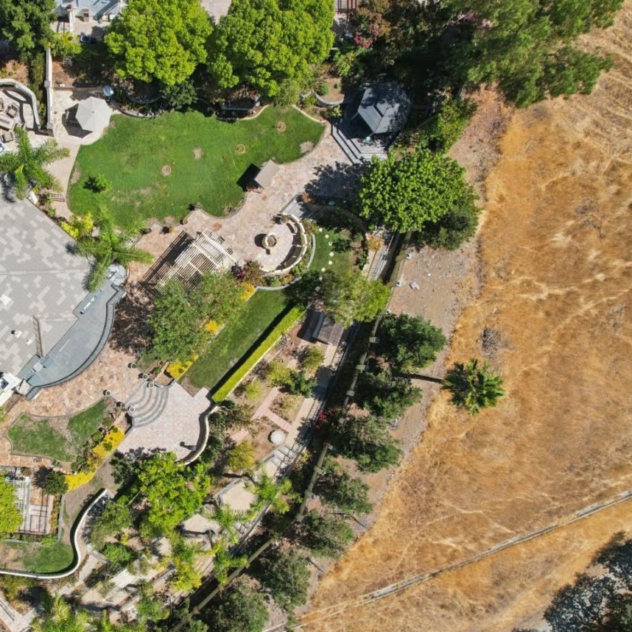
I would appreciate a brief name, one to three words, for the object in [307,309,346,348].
shed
